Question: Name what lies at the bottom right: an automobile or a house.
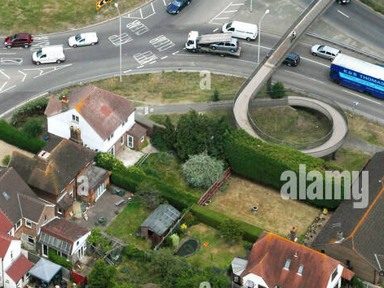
house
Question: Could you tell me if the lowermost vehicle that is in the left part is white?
Yes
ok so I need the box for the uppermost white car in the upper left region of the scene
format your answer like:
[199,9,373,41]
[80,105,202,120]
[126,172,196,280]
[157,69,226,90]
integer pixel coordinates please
[69,30,98,46]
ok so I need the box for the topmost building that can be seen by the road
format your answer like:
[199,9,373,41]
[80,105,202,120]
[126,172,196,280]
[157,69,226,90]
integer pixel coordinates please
[41,74,147,168]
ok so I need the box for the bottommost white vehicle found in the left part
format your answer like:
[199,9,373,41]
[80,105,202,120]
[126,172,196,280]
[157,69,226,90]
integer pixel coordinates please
[30,43,66,65]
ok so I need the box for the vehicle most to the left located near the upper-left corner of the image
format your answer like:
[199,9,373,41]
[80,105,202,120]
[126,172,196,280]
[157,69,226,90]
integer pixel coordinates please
[3,29,34,46]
